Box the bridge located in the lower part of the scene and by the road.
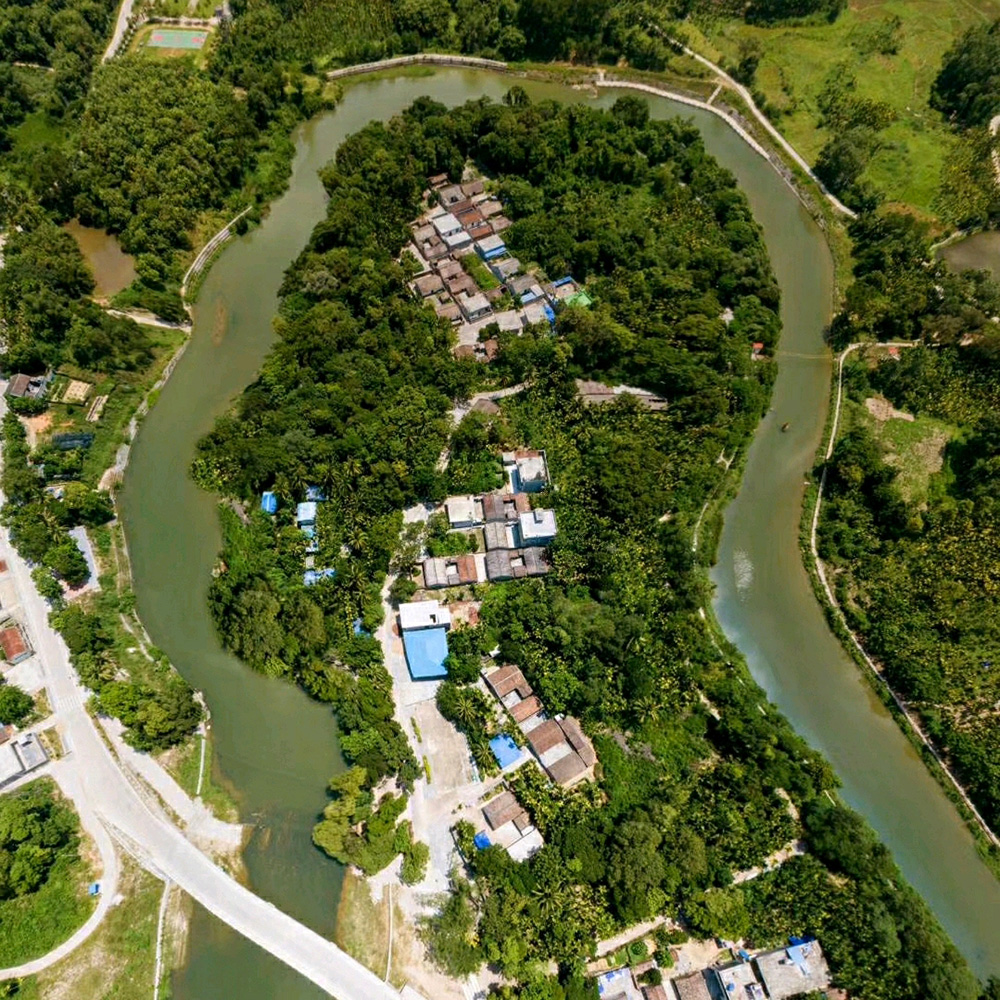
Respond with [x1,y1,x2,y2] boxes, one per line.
[167,854,406,1000]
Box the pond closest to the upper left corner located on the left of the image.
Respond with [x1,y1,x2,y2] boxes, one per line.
[64,221,137,298]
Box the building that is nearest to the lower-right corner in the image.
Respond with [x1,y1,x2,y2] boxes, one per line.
[751,940,830,1000]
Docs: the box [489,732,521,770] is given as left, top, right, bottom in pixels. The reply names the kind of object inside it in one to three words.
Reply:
shed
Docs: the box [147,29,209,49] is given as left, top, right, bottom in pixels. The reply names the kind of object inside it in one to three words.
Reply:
basketball court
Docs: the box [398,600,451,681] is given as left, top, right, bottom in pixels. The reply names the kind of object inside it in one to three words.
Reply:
building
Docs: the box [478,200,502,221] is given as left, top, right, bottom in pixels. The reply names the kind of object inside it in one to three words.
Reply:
house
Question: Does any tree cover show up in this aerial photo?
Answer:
Yes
